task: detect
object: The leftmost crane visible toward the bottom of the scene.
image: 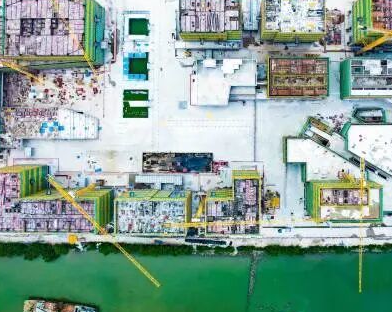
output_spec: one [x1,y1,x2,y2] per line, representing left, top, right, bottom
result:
[46,175,161,287]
